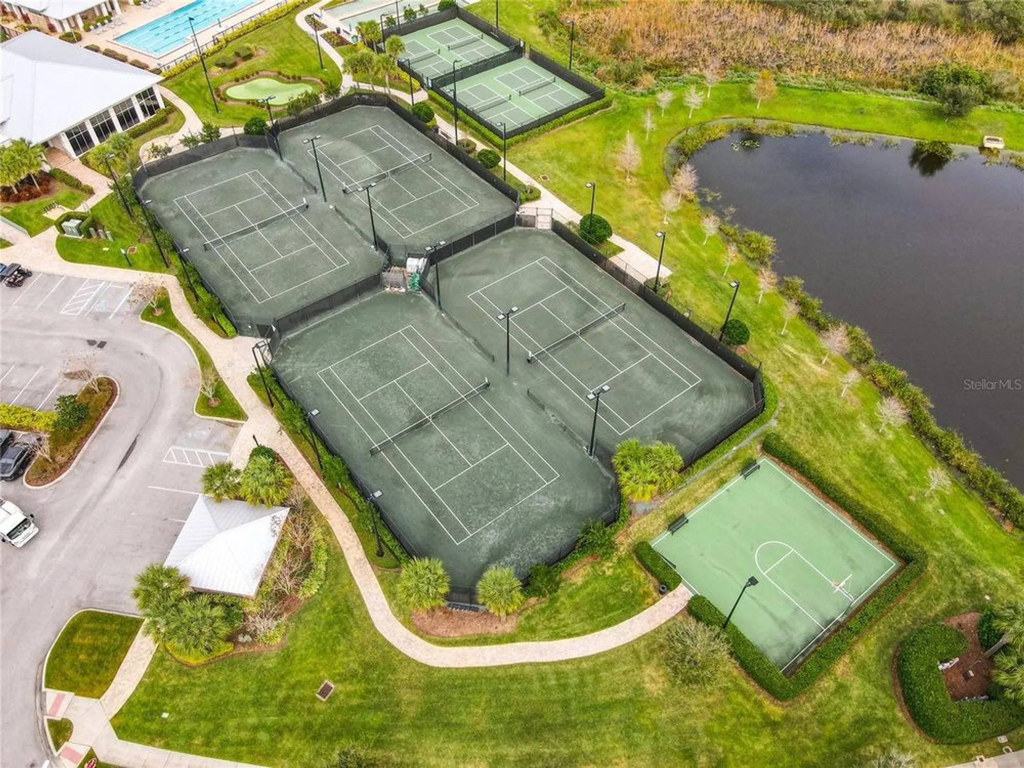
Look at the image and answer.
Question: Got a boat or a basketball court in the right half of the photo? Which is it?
basketball court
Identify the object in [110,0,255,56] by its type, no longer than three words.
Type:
swimming pool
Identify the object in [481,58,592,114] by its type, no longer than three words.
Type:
sports court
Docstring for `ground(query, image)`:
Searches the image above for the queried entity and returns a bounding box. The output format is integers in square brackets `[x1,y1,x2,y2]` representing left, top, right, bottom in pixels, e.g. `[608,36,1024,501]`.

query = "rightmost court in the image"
[653,454,902,679]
